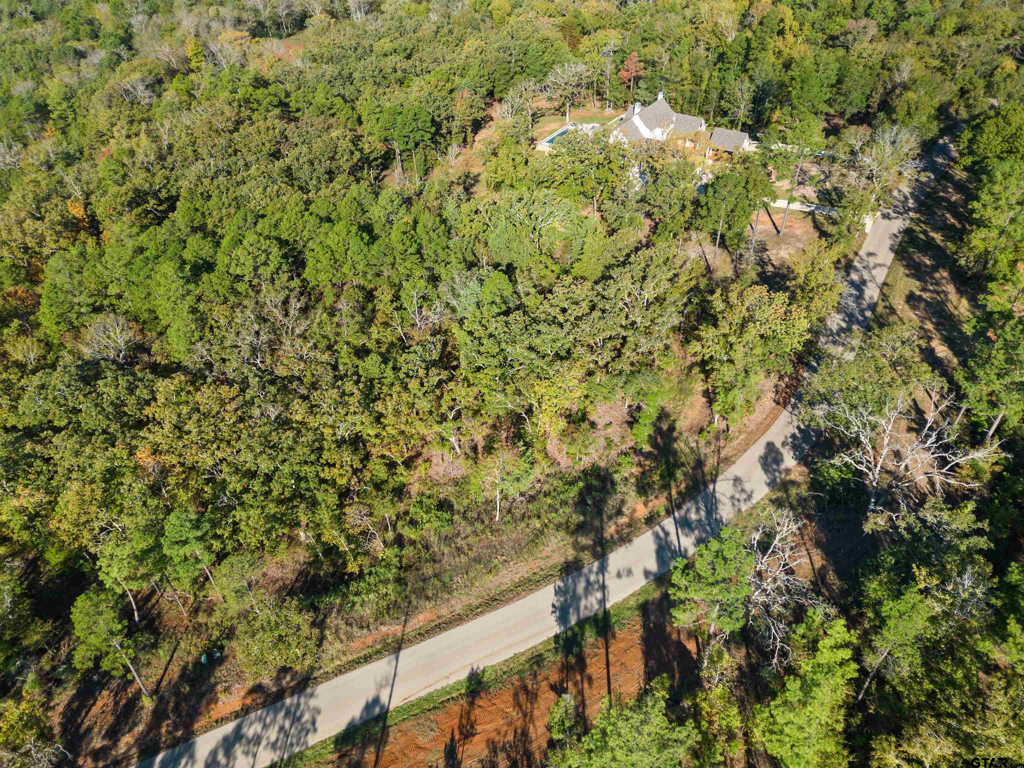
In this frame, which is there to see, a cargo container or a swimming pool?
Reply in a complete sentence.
Of the two, only a swimming pool appears.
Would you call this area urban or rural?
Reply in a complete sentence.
It looks rural.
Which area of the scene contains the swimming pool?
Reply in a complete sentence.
Look in the top portion of the view to spot the swimming pool.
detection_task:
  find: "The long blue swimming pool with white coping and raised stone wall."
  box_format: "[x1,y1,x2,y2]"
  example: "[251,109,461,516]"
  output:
[536,122,598,152]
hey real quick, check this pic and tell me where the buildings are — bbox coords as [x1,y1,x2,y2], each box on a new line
[705,127,750,161]
[605,87,707,157]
